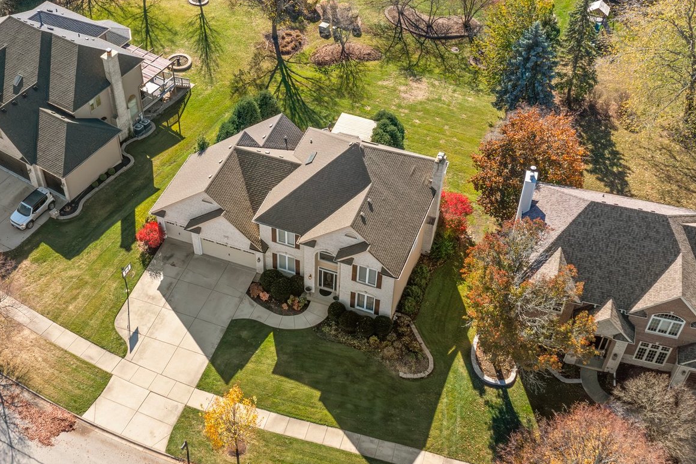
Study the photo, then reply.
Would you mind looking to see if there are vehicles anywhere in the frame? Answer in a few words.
Yes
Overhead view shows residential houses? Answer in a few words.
Yes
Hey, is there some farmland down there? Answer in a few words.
No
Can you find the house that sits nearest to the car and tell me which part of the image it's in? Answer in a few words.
top left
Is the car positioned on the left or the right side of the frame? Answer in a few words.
left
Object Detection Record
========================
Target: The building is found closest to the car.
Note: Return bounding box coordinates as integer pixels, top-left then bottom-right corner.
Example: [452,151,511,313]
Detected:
[0,3,145,201]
